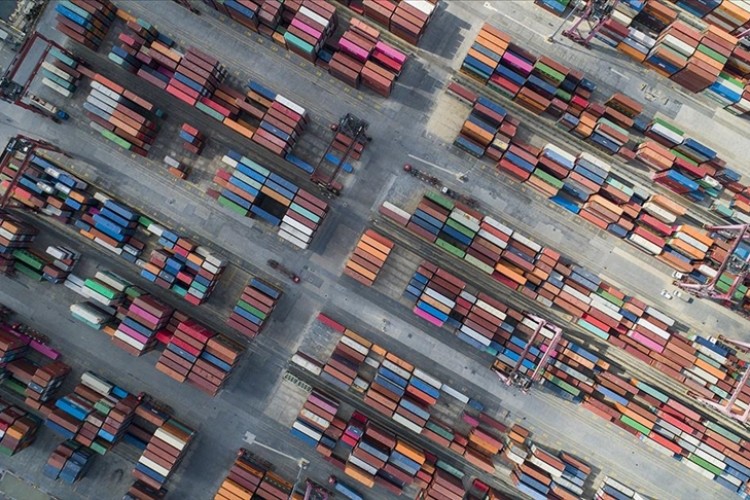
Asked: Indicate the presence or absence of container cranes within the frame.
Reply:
Yes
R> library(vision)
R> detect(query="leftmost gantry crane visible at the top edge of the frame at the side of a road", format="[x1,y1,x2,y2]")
[0,23,85,119]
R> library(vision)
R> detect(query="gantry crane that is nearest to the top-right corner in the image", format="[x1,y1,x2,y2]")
[560,0,620,48]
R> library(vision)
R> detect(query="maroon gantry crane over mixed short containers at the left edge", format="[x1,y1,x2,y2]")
[0,130,66,215]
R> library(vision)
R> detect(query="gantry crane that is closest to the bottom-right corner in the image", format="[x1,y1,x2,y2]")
[687,335,750,425]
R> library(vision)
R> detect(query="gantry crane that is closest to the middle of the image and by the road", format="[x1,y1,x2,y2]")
[309,111,371,198]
